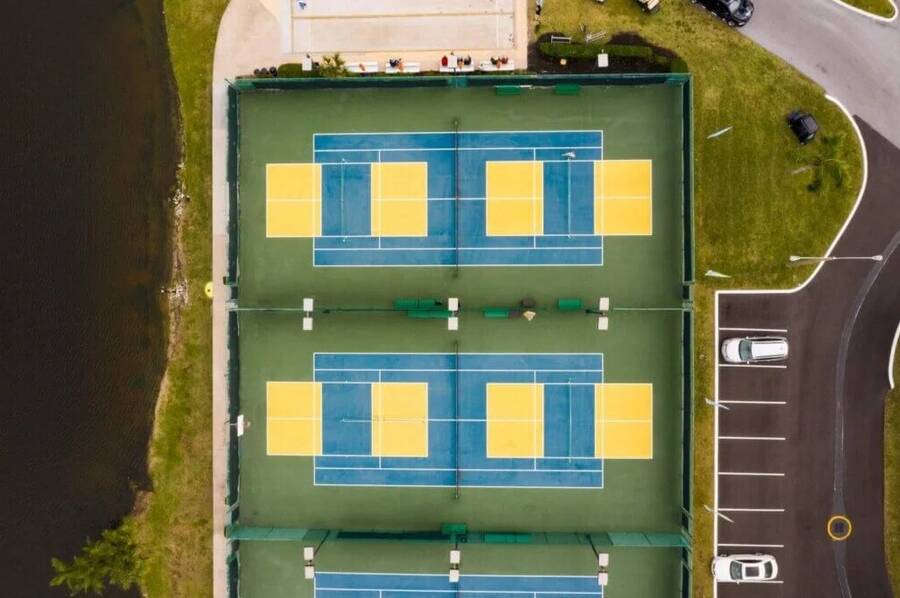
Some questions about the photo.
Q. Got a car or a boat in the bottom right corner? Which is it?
car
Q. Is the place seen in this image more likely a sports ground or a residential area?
sports ground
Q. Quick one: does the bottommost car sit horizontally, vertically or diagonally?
horizontally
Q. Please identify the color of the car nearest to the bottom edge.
white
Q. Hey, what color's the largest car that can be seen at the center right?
white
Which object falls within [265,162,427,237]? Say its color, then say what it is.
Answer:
yellow sports court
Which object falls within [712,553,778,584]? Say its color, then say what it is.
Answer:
white car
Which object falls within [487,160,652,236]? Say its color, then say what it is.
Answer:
yellow sports court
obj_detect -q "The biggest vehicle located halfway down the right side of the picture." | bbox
[720,335,789,365]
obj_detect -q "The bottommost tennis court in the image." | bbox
[242,530,684,598]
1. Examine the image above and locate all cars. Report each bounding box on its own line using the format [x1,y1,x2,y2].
[712,553,778,584]
[687,0,750,26]
[720,335,789,365]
